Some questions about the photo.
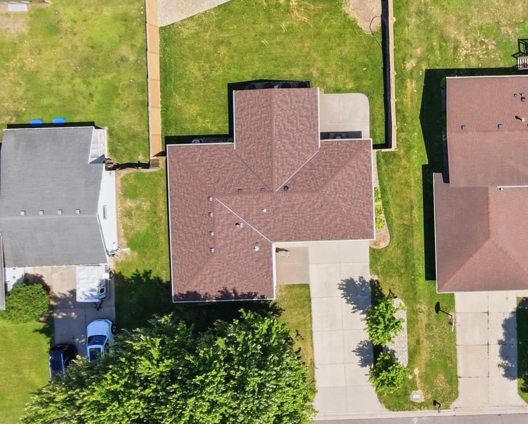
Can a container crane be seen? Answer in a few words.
No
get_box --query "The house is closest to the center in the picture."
[166,87,376,302]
